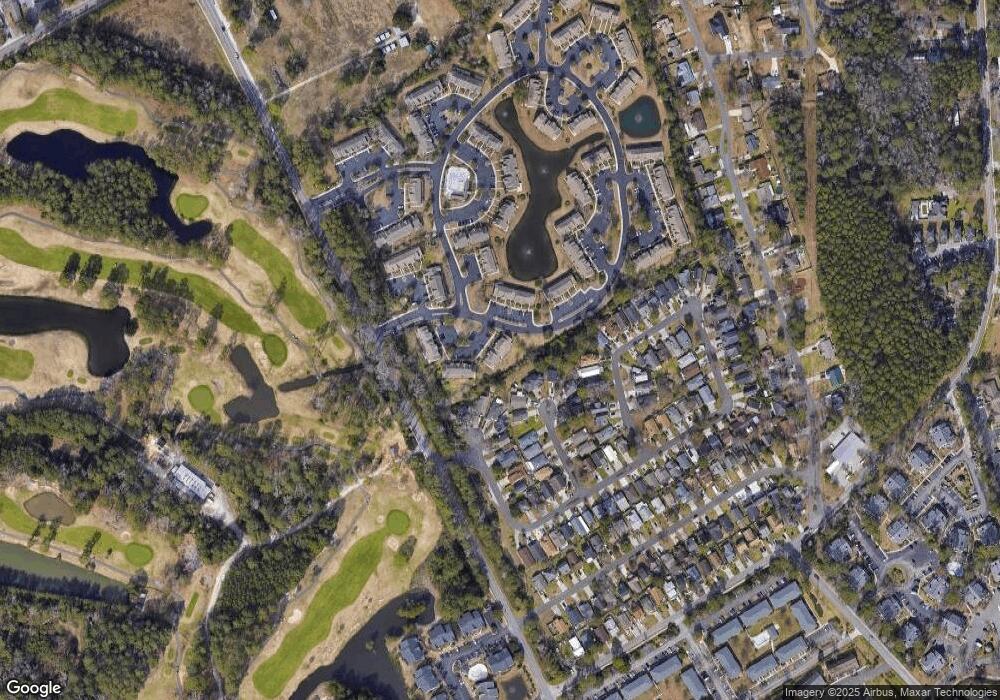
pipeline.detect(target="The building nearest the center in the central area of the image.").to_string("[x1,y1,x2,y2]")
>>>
[480,331,511,365]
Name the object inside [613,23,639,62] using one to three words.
building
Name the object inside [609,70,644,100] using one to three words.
building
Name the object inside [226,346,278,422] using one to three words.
pond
